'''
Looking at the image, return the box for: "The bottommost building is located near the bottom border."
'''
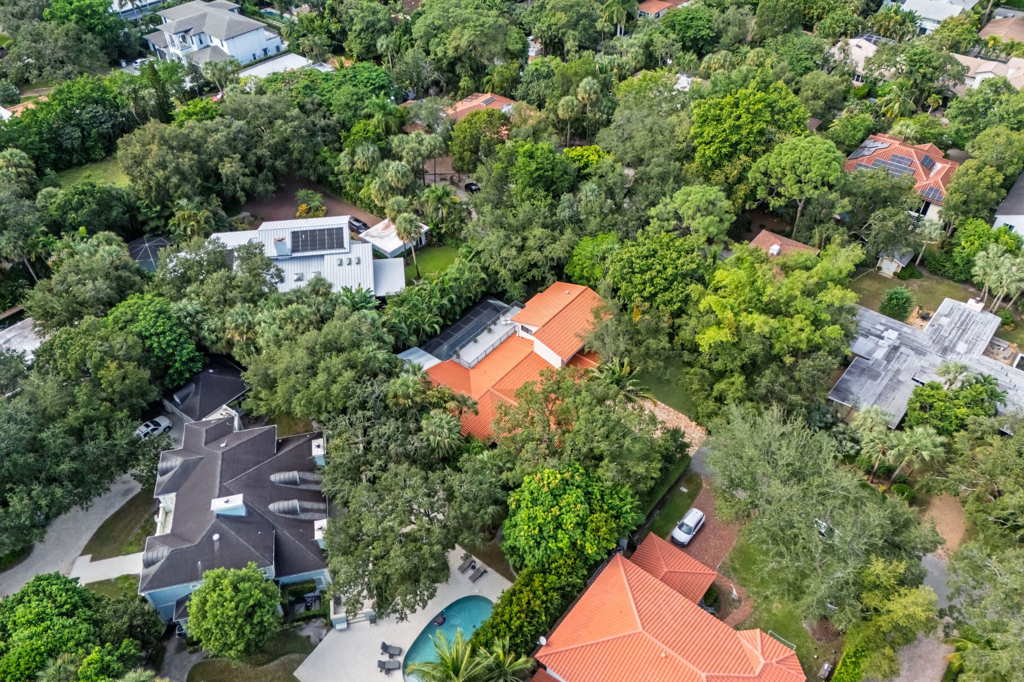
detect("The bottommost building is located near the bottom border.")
[528,531,808,682]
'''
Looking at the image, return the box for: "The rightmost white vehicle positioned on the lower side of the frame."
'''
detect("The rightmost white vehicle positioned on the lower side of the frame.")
[669,505,708,550]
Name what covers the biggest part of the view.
trees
